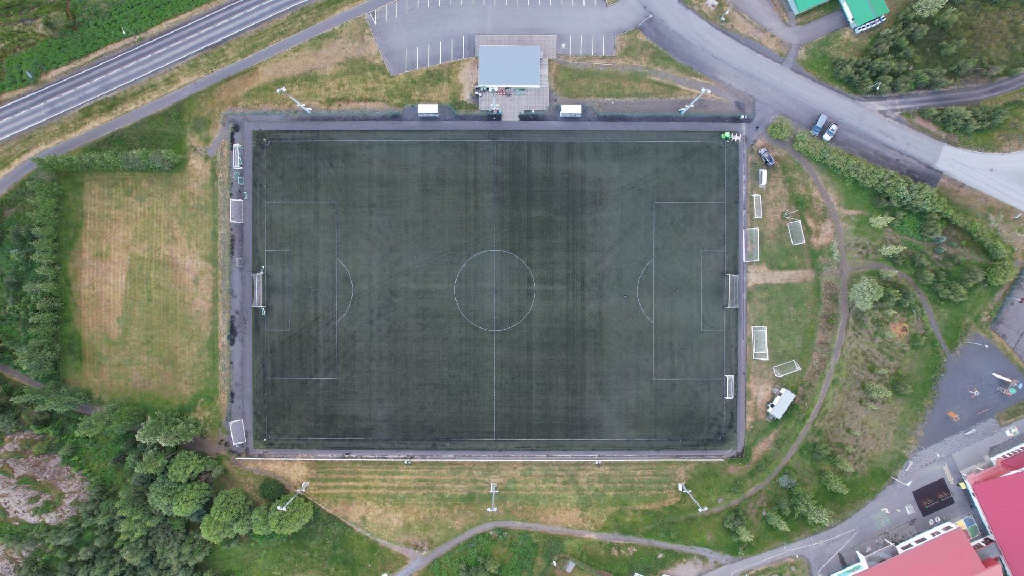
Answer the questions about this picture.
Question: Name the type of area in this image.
sports ground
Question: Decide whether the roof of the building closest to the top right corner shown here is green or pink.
green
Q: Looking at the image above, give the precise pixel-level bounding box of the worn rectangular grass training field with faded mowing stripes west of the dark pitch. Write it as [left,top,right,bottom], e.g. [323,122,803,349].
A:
[80,173,213,398]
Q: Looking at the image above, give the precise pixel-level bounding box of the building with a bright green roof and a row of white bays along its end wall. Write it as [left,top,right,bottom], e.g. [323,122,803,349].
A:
[839,0,889,38]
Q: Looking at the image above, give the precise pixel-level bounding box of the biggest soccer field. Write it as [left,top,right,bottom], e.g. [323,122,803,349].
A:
[252,130,738,449]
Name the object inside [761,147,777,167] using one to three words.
car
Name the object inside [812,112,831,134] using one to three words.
vehicle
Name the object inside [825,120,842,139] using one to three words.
car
